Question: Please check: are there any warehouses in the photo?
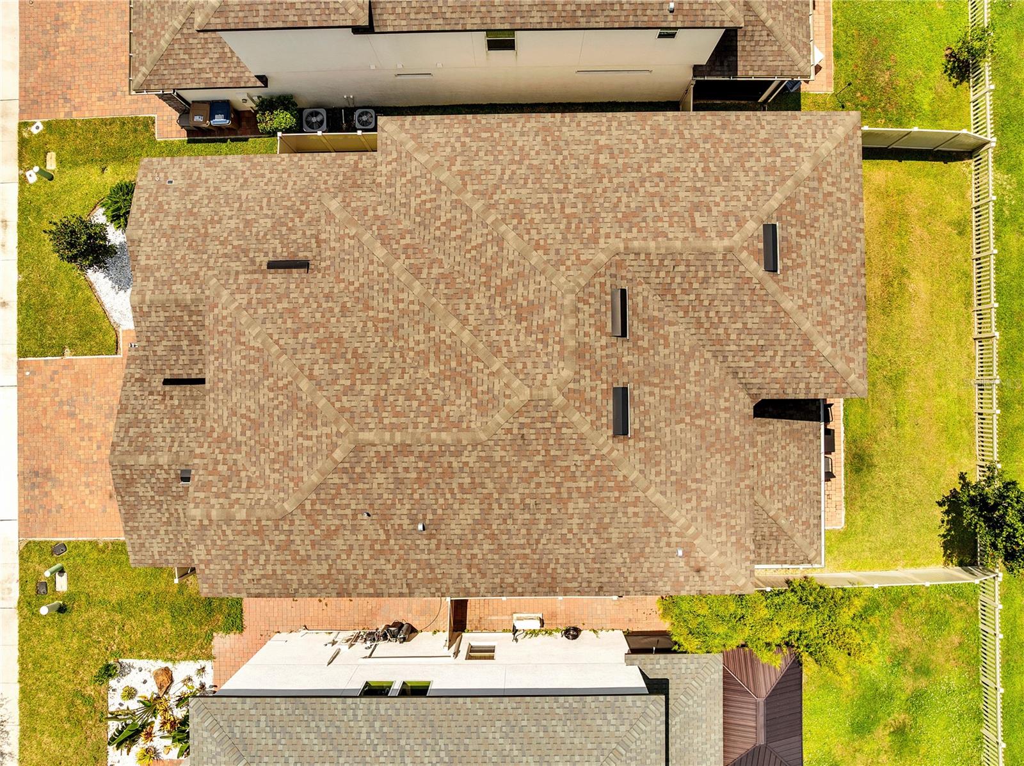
No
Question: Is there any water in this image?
No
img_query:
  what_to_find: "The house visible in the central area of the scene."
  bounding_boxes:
[108,111,865,597]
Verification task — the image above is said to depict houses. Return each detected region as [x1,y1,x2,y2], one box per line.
[190,631,726,766]
[108,111,865,597]
[127,0,814,108]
